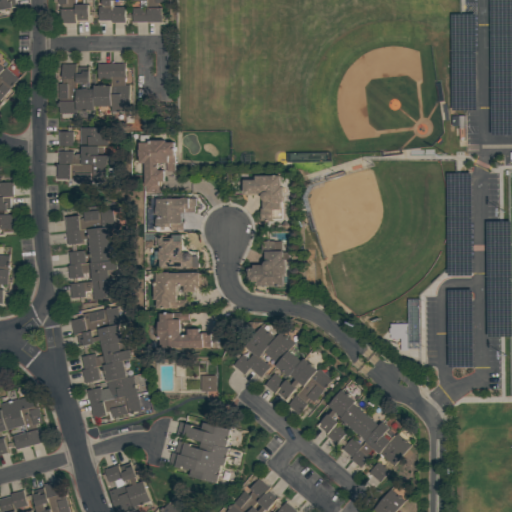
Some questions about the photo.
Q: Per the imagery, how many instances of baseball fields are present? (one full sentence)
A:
My tally gives 2 baseball fields in this view.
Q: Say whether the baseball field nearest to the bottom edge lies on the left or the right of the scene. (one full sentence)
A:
You can find the baseball field nearest to the bottom edge on the right side of the picture.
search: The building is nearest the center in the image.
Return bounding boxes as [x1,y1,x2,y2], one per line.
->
[248,241,288,287]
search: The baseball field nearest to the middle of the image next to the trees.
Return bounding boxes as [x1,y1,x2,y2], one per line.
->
[310,170,384,276]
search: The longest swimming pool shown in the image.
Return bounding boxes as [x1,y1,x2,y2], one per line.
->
[161,366,174,390]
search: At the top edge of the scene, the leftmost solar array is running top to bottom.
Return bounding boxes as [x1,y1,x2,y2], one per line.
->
[450,12,476,110]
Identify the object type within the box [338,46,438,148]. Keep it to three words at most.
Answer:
baseball field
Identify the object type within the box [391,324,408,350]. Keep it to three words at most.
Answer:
building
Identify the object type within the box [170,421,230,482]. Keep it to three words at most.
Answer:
building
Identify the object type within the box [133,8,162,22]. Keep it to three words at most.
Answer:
house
